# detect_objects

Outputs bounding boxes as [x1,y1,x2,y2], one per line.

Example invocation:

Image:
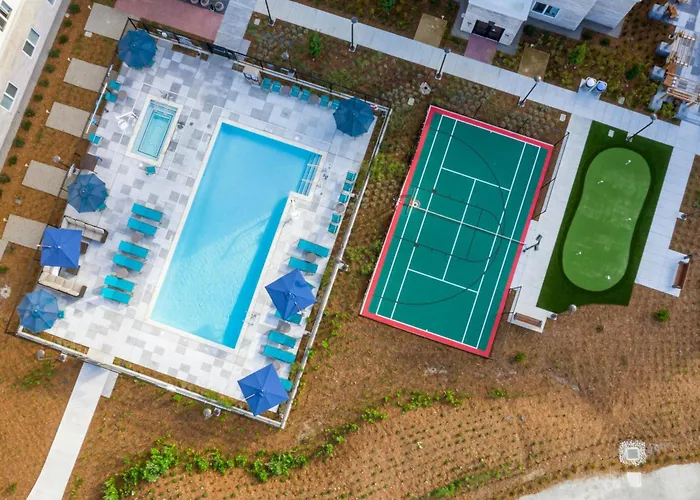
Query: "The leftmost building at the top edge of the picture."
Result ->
[0,0,63,154]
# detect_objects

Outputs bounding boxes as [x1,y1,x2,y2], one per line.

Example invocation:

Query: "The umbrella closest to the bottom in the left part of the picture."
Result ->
[237,363,289,416]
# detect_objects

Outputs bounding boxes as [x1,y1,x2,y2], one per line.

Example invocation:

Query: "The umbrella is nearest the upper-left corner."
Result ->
[118,30,158,68]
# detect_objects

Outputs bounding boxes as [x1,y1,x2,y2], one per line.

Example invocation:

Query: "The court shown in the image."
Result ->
[360,105,553,356]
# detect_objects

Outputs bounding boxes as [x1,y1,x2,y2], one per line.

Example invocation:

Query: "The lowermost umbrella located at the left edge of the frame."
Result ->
[18,289,59,330]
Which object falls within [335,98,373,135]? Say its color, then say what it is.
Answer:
blue umbrella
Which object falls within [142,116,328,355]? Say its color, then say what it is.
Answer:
blue swimming pool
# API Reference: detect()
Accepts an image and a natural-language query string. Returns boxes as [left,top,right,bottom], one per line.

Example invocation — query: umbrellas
[335,98,373,135]
[237,363,289,416]
[38,229,84,268]
[266,269,317,326]
[118,30,158,68]
[18,289,59,330]
[68,174,107,213]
